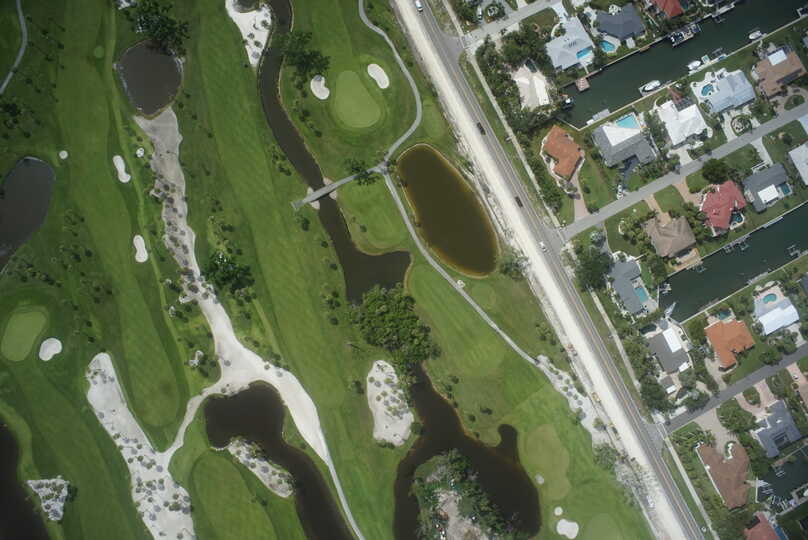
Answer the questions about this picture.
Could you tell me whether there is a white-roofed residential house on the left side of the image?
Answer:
No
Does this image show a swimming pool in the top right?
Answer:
Yes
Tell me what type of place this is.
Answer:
golf course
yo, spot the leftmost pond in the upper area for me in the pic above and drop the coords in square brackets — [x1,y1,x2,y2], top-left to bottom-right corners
[0,157,55,271]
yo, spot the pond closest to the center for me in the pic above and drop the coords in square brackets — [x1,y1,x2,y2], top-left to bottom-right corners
[397,144,499,276]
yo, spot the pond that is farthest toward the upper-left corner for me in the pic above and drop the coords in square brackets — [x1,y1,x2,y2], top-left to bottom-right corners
[118,39,182,118]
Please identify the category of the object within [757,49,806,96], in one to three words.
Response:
house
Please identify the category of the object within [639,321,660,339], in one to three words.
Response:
swimming pool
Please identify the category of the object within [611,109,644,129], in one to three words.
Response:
swimming pool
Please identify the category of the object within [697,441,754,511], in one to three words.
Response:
house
